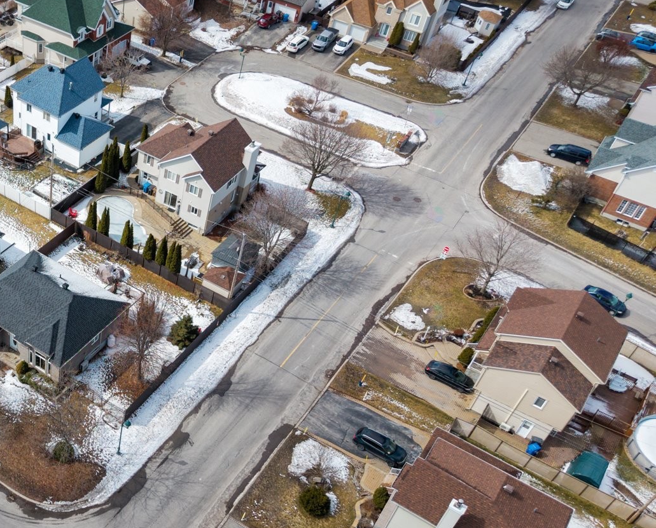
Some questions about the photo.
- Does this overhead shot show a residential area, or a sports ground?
residential area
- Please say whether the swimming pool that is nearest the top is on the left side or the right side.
left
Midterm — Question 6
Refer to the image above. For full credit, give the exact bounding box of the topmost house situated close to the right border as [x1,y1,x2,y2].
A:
[599,67,656,149]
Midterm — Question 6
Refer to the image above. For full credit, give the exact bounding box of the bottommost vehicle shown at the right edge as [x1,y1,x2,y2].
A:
[580,282,631,321]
